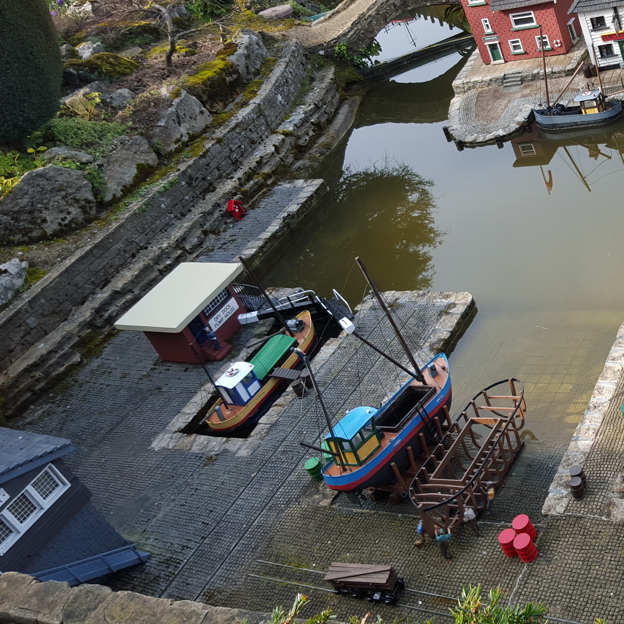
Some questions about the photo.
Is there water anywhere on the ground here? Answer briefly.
Yes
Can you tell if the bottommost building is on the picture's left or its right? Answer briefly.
left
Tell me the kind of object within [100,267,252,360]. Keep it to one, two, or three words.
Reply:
building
